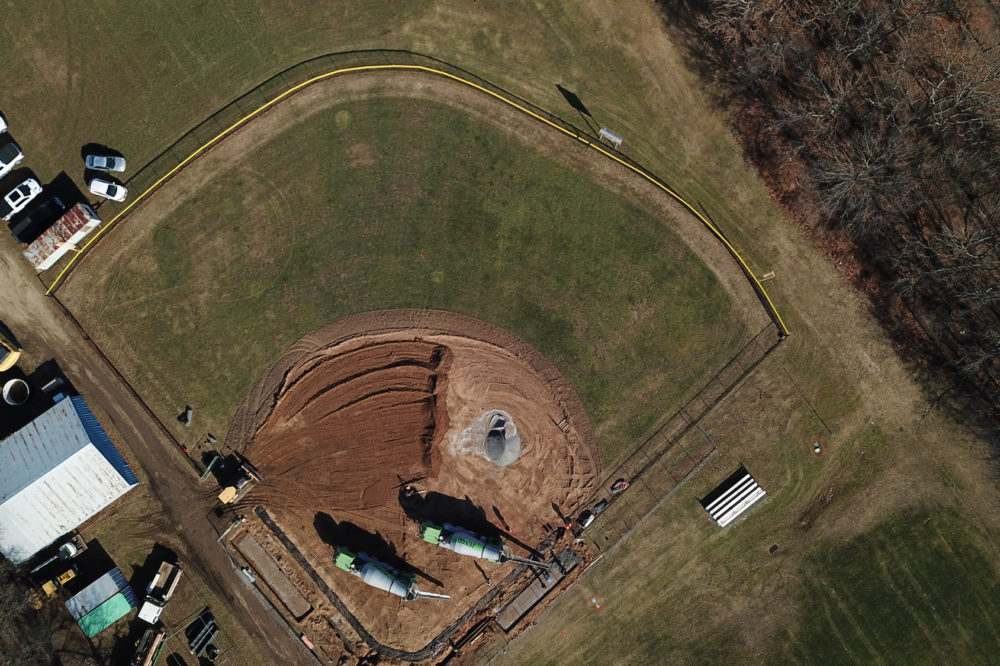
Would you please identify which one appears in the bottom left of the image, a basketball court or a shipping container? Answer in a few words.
shipping container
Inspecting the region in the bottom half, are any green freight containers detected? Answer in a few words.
Yes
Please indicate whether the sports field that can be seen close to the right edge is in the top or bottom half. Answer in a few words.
bottom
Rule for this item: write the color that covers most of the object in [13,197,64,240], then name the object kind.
black truck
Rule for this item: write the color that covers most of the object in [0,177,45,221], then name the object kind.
white truck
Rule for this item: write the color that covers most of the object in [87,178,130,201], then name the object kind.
white car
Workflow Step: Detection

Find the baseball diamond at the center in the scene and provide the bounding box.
[57,70,782,666]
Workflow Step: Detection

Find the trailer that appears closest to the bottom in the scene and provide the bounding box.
[138,628,174,666]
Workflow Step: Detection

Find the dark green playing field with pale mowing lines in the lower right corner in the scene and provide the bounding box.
[778,522,1000,666]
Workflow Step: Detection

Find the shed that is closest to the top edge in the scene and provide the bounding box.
[21,203,104,269]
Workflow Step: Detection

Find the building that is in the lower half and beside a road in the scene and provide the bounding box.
[0,395,141,568]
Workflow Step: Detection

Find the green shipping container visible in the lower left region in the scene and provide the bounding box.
[80,584,142,637]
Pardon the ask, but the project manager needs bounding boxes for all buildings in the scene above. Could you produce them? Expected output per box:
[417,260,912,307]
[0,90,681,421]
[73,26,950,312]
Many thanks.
[21,203,104,269]
[0,395,141,568]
